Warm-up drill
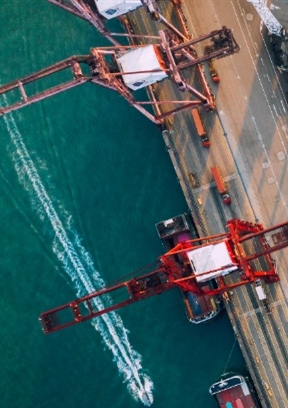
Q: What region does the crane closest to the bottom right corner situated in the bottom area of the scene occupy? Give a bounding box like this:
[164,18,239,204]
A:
[35,219,288,338]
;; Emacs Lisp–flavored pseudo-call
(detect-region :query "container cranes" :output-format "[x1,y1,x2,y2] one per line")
[0,20,250,134]
[25,0,198,52]
[35,219,288,338]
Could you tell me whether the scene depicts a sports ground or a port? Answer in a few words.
port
